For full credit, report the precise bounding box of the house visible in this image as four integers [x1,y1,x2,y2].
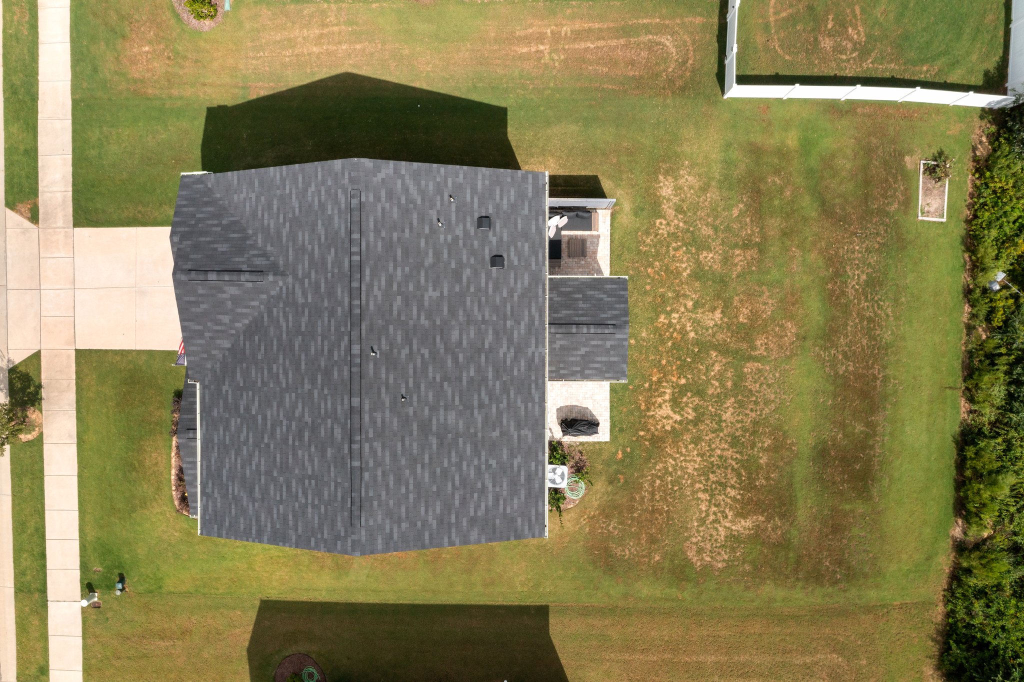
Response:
[170,158,630,555]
